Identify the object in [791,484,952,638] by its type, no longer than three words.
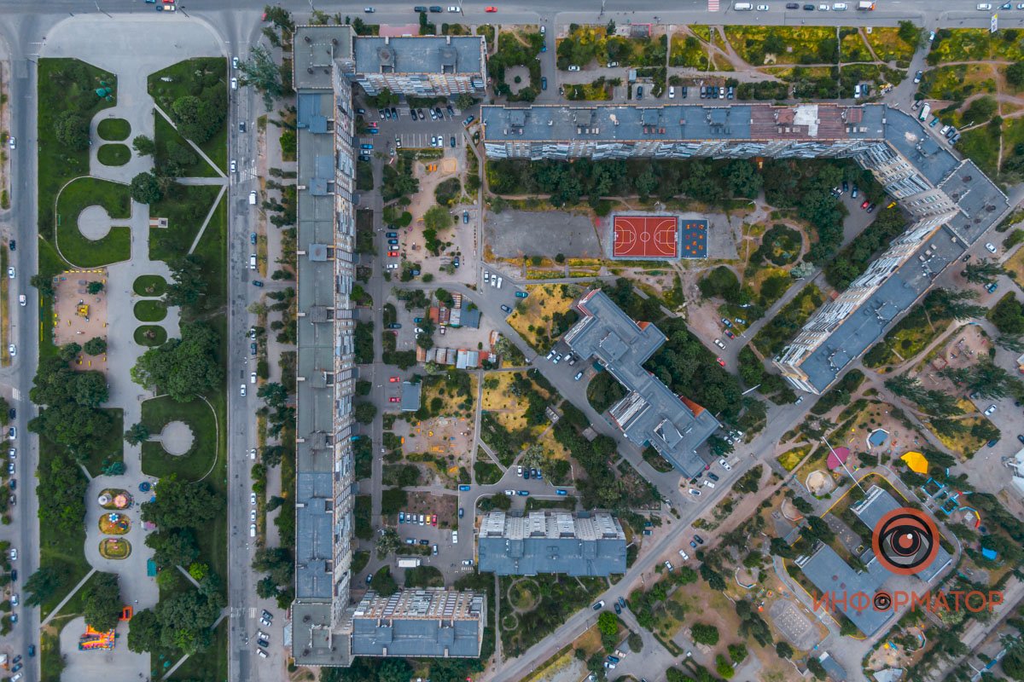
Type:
building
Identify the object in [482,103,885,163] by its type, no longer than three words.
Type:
building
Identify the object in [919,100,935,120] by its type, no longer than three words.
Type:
vehicle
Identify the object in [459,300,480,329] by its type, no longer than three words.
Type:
shed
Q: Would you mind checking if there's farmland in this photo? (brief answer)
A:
No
